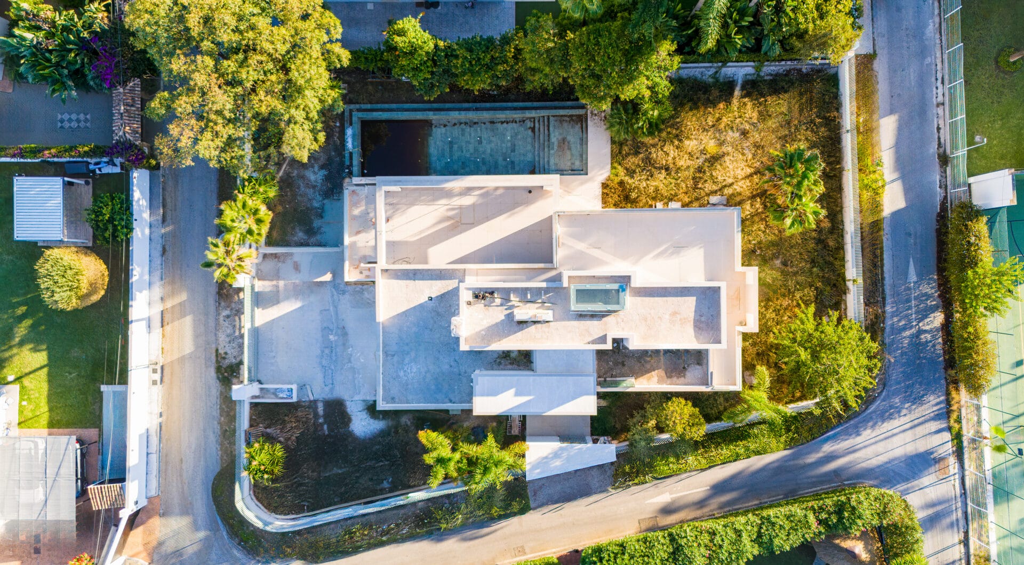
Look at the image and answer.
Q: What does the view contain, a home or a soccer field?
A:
home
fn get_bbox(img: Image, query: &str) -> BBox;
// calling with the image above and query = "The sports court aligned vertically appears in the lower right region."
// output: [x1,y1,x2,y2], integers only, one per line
[988,262,1024,565]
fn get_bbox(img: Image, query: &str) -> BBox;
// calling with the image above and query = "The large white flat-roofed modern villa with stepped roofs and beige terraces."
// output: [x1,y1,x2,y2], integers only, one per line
[344,176,758,415]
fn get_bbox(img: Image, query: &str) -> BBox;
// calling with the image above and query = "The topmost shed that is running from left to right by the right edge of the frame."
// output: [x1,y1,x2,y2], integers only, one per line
[944,169,1024,211]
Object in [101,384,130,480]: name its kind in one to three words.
shed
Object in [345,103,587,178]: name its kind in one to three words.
swimming pool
